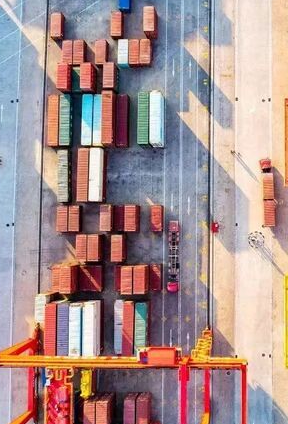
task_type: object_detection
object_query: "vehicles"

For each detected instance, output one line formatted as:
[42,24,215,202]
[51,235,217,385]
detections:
[259,158,273,177]
[166,223,181,292]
